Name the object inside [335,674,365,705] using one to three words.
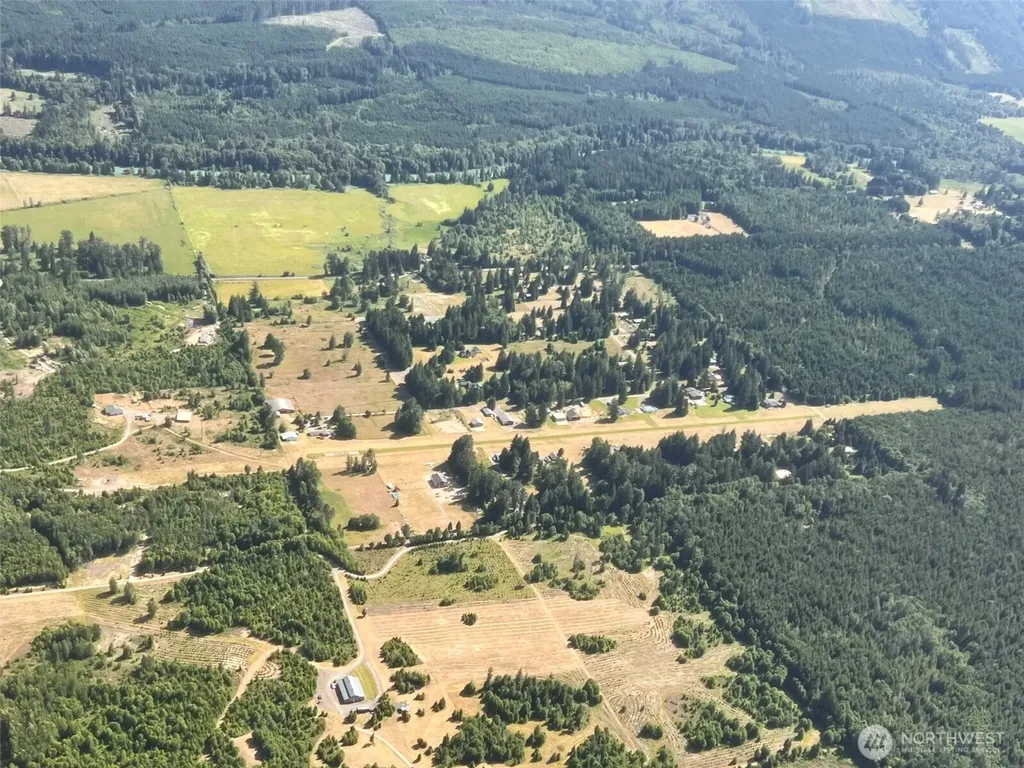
hangar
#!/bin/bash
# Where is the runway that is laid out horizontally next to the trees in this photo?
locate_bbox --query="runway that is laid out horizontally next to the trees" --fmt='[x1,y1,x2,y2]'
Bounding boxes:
[299,396,945,464]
